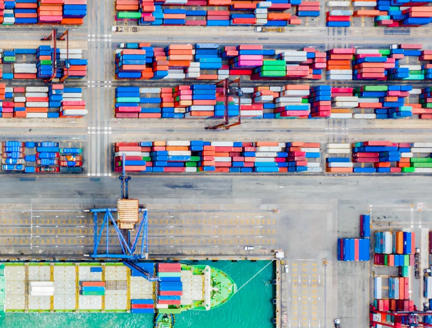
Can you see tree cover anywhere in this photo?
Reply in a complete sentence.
No, there's no tree cover in this view.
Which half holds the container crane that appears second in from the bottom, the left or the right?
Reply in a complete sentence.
The container crane that appears second in from the bottom appears in the left half of the scene.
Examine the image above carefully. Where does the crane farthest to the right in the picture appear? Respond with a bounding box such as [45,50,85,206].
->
[360,304,430,328]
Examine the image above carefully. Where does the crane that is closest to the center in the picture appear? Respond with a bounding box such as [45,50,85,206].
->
[204,78,242,129]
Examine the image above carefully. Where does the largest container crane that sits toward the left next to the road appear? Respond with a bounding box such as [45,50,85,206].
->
[80,133,165,283]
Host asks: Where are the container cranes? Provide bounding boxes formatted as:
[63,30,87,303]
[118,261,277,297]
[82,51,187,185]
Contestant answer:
[360,304,430,328]
[40,29,71,82]
[80,133,165,283]
[204,78,242,129]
